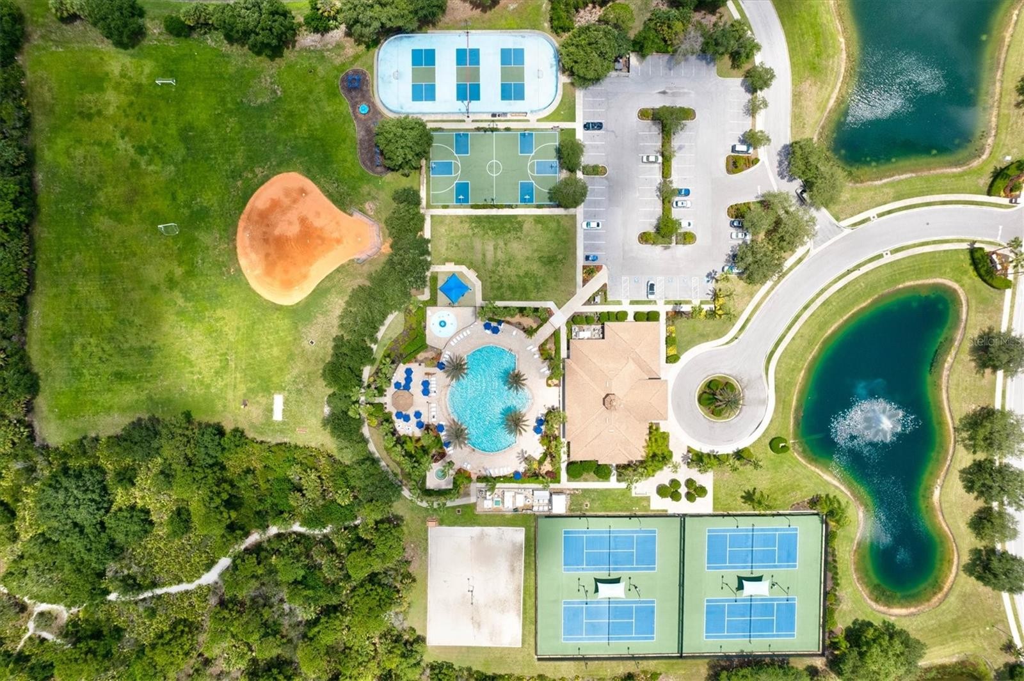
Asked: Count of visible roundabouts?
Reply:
one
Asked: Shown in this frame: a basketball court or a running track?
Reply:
basketball court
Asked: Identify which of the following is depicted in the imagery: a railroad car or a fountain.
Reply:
fountain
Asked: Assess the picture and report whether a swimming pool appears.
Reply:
Yes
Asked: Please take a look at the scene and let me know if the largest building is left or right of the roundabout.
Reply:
to the left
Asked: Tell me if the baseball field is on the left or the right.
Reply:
left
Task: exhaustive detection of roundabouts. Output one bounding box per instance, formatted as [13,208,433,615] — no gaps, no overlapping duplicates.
[672,350,767,445]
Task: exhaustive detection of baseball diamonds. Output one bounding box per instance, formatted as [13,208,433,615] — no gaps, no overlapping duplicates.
[237,172,380,305]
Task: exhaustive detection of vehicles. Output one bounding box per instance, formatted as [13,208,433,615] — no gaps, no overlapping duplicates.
[582,221,601,229]
[672,199,691,208]
[642,154,662,163]
[723,264,743,273]
[672,188,690,196]
[728,219,748,228]
[731,231,750,240]
[584,122,603,130]
[732,144,752,153]
[585,255,598,261]
[647,280,656,298]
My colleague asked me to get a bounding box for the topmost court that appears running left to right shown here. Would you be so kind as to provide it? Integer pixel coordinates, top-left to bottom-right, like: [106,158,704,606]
[377,31,559,113]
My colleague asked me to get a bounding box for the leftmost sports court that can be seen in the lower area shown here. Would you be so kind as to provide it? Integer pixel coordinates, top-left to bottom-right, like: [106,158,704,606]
[427,527,525,647]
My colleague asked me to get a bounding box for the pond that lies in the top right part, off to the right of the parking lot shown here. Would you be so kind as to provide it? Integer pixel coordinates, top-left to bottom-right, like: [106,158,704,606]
[815,0,1018,183]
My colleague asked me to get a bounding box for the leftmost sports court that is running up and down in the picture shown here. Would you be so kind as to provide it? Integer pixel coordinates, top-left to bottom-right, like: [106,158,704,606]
[412,49,435,101]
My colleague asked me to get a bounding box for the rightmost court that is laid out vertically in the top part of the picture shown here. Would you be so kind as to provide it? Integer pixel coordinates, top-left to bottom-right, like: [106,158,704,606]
[501,48,524,100]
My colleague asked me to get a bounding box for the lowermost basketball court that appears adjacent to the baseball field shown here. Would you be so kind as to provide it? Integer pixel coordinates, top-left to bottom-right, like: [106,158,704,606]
[429,130,559,205]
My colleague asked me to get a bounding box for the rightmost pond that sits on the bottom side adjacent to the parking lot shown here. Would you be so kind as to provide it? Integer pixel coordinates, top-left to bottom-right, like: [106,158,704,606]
[792,281,964,613]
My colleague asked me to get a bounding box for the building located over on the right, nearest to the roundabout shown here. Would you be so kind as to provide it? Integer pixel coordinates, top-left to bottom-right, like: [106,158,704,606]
[565,322,667,464]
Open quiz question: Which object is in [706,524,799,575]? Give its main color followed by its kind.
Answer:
blue tennis court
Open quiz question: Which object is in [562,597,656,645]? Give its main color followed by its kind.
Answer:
blue tennis court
